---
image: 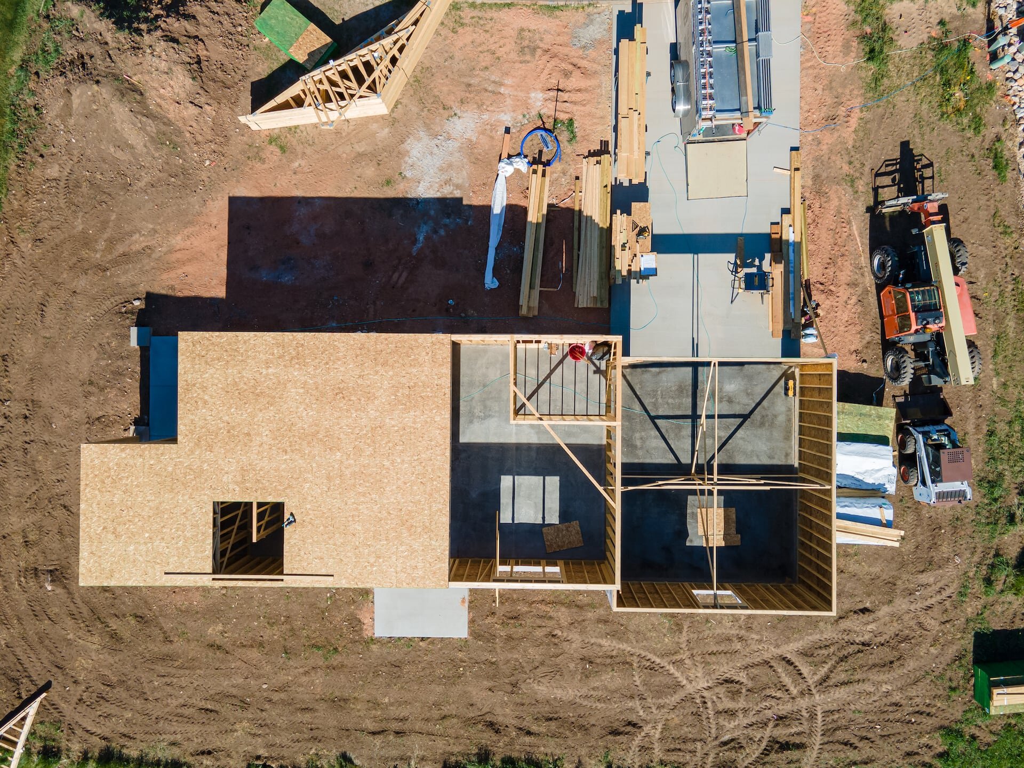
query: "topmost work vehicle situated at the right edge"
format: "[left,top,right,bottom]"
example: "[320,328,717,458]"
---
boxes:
[863,167,983,392]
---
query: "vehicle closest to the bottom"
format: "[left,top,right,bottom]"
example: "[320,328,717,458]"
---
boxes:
[891,395,974,505]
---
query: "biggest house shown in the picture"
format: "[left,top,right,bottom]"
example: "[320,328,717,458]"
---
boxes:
[79,331,838,616]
